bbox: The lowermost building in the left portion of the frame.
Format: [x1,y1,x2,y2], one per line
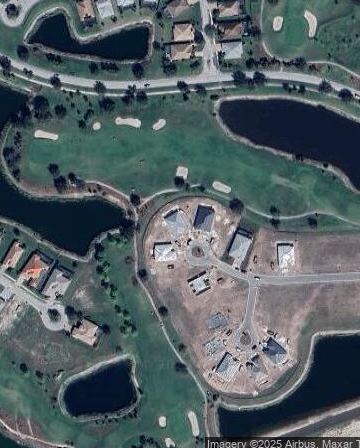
[75,318,106,346]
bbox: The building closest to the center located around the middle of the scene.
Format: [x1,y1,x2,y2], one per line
[160,207,186,237]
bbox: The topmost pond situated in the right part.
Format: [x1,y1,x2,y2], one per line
[216,96,360,191]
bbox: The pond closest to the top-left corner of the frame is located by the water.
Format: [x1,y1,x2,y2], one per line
[27,11,150,61]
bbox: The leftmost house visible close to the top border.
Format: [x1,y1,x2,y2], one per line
[77,0,97,21]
